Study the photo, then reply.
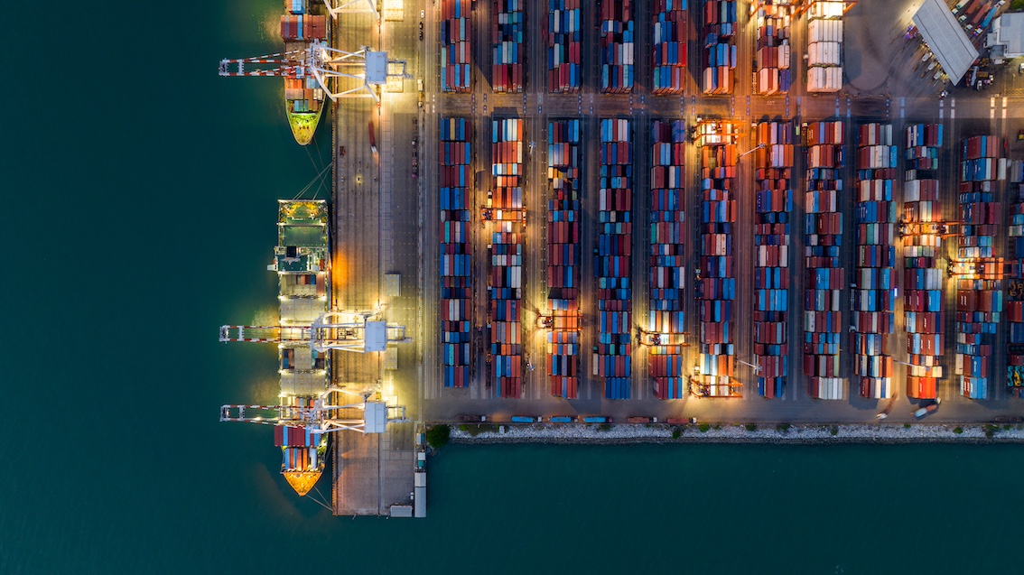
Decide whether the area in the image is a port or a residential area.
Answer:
port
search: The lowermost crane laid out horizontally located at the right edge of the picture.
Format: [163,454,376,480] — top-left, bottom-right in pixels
[952,258,1023,279]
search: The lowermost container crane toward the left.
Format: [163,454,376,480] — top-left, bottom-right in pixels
[220,382,413,434]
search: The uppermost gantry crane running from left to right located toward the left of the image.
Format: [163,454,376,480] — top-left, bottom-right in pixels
[322,0,380,27]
